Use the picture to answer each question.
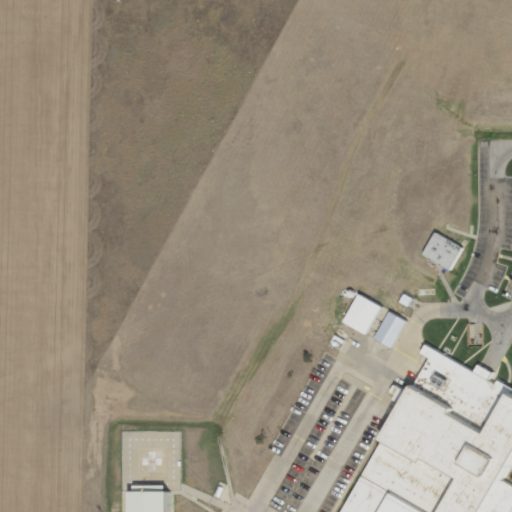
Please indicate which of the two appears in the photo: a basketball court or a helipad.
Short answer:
helipad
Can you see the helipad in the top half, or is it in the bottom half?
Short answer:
bottom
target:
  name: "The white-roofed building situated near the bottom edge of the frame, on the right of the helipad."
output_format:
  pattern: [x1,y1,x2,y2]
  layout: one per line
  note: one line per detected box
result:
[338,344,512,512]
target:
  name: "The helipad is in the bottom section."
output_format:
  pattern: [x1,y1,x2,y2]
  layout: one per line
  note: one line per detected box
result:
[122,431,182,491]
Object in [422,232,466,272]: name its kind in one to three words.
building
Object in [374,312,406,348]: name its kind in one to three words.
shed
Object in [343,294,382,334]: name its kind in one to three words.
shed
